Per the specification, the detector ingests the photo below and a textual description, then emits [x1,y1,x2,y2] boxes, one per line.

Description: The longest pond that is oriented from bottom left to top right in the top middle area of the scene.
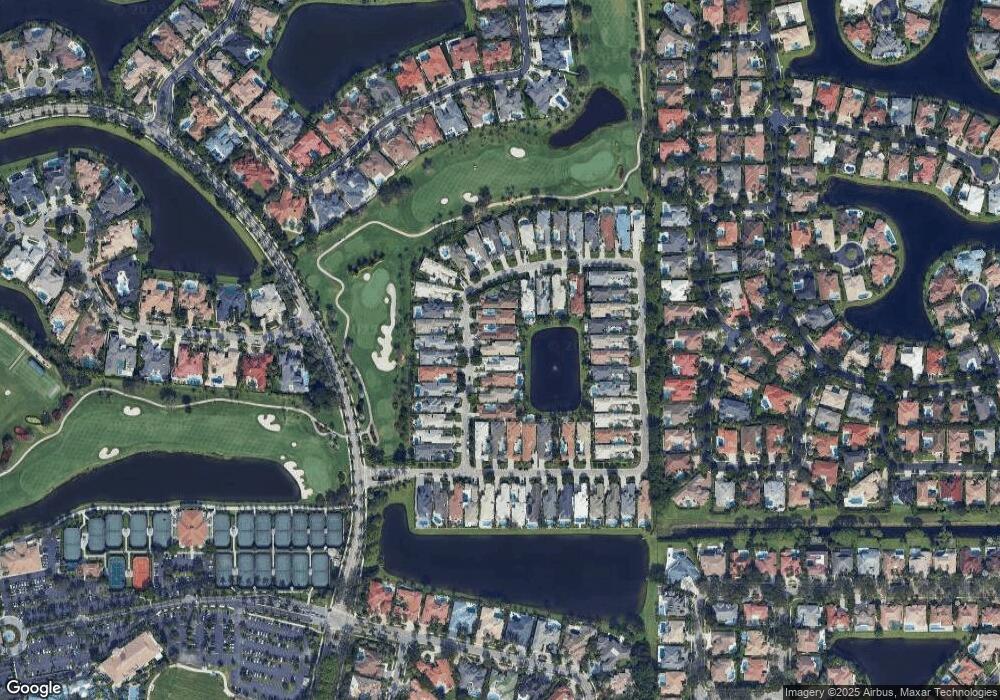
[550,86,627,148]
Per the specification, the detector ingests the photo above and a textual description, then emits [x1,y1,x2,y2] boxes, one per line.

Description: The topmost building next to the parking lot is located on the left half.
[177,511,203,544]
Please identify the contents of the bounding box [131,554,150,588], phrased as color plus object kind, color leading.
red tennis court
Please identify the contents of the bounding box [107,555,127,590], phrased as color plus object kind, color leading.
blue tennis court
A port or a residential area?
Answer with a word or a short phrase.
residential area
